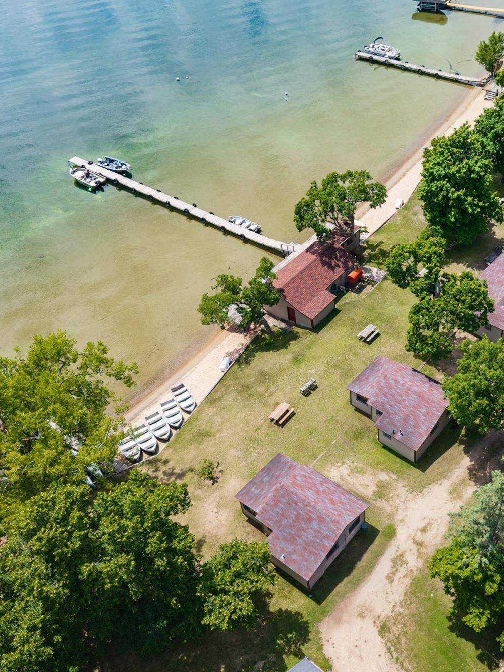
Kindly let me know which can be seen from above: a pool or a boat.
boat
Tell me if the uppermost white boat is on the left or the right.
right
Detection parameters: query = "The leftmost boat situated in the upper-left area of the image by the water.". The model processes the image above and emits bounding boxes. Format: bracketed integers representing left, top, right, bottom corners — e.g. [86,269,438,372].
[69,169,107,190]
